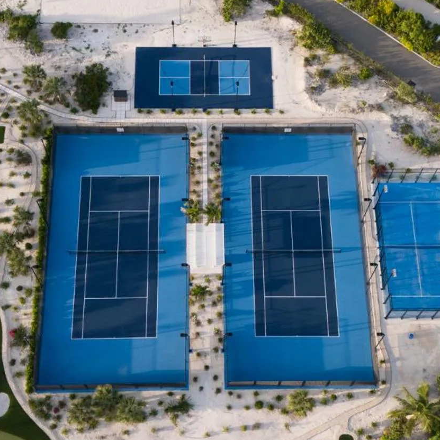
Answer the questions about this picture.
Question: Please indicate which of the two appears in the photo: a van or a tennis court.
tennis court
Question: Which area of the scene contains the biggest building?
center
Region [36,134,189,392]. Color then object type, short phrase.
blue tennis court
